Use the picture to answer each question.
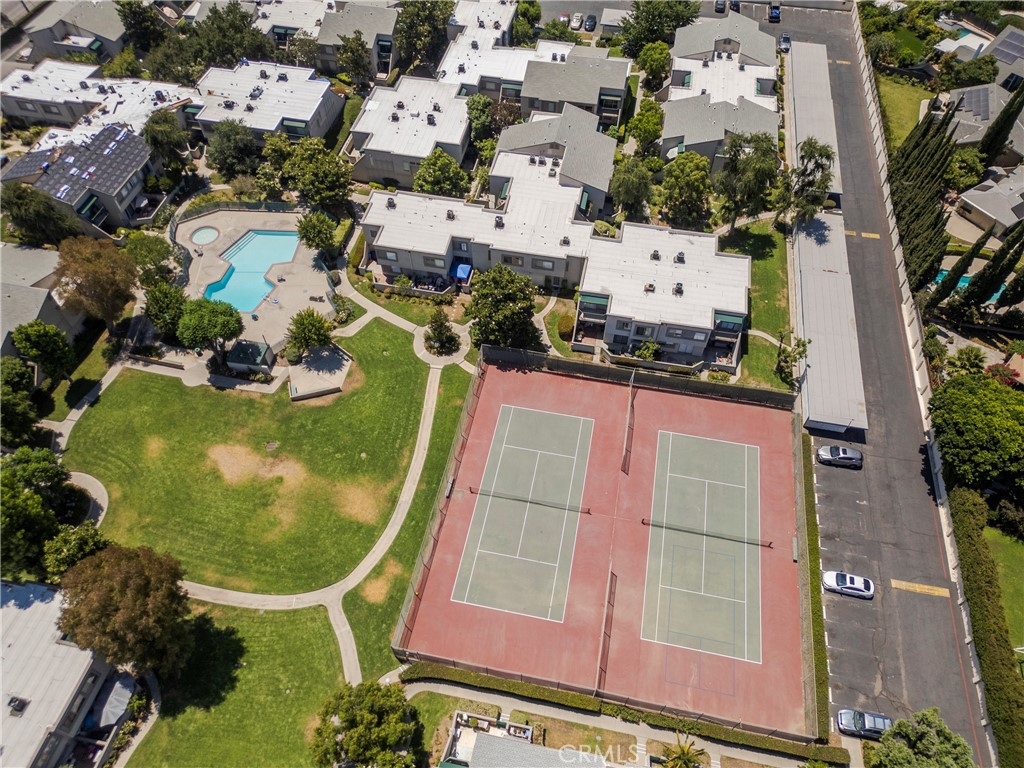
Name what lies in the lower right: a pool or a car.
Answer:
car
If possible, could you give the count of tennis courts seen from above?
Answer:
2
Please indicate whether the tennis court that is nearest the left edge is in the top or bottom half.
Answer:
bottom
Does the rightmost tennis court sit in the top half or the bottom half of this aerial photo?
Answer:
bottom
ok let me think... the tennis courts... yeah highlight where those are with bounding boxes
[398,362,638,690]
[596,385,806,735]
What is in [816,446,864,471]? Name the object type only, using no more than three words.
car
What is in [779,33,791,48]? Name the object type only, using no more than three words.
vehicle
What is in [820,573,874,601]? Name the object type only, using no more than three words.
car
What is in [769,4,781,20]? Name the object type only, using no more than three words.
vehicle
